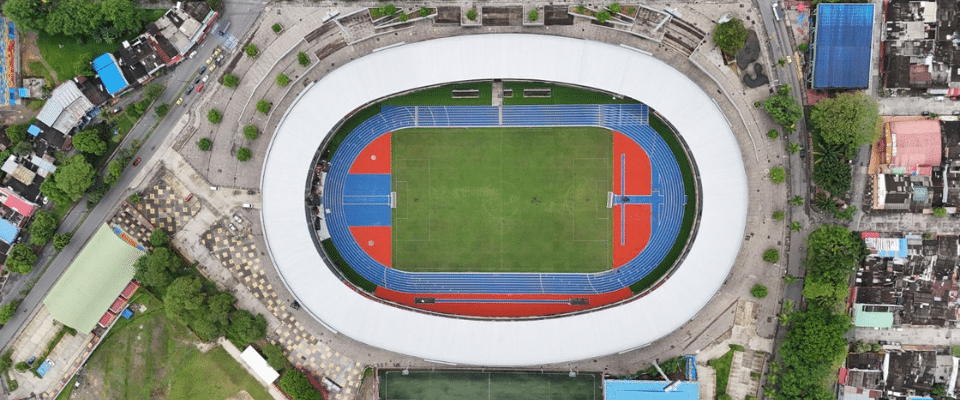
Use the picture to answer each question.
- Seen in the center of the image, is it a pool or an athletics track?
athletics track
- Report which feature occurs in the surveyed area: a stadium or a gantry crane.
stadium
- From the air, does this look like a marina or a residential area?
residential area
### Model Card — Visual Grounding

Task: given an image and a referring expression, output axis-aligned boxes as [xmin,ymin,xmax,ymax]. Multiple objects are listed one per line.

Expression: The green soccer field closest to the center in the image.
[392,128,613,271]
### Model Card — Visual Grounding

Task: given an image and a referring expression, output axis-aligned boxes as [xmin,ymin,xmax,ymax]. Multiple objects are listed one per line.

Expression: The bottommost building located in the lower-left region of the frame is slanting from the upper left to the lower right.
[239,345,280,385]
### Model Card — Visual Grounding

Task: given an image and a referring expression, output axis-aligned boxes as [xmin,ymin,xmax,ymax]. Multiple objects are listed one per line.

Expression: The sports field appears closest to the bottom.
[377,368,605,400]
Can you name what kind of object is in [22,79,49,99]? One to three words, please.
building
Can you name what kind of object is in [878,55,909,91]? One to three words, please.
house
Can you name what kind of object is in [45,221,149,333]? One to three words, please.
building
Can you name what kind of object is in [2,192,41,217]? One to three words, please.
house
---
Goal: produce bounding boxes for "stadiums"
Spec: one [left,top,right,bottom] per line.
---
[260,34,748,367]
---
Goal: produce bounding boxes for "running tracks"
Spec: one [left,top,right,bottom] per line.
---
[323,104,682,317]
